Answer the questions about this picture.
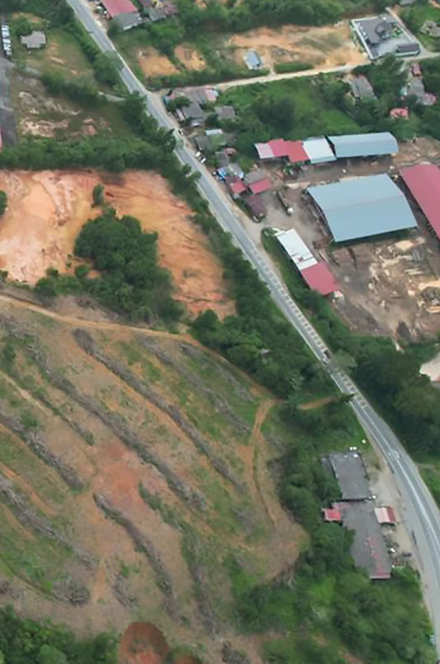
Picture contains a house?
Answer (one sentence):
Yes, the frame does contain a house.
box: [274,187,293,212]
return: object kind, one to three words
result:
vehicle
